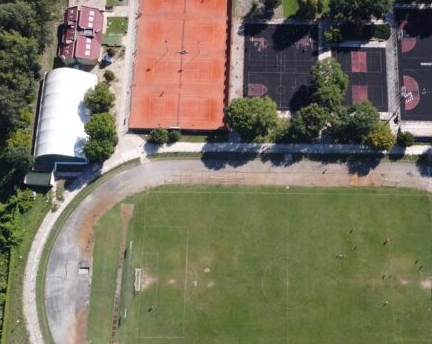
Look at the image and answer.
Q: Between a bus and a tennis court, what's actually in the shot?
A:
tennis court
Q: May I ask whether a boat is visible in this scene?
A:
No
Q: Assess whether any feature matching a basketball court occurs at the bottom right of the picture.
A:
No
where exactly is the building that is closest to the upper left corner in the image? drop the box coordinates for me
[60,8,106,63]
